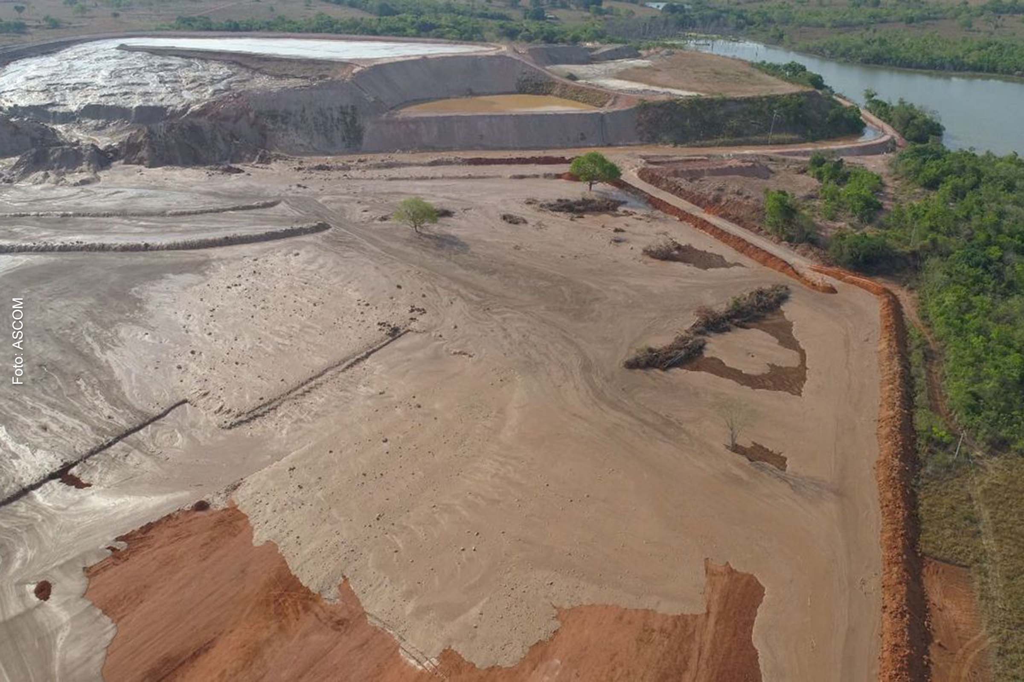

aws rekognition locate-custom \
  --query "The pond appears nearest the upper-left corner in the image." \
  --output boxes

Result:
[114,37,479,58]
